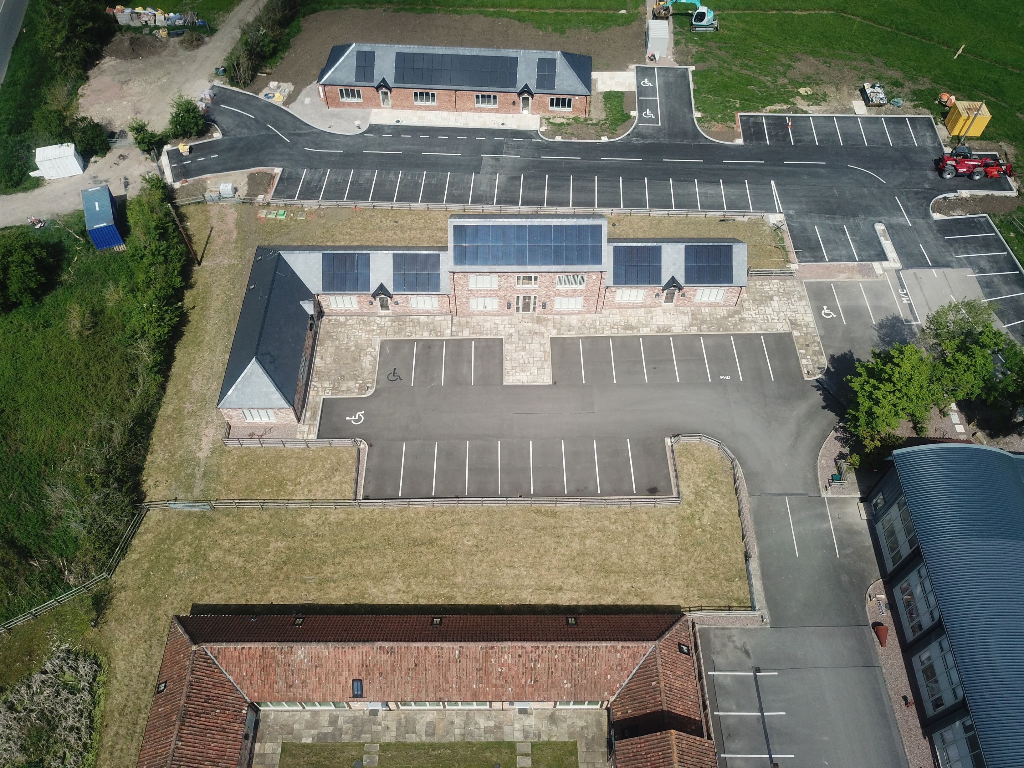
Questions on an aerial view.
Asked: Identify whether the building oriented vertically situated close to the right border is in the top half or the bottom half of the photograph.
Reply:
bottom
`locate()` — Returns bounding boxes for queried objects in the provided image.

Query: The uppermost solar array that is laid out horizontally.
[394,52,518,87]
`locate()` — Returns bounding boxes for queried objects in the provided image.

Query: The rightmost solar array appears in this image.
[685,245,733,283]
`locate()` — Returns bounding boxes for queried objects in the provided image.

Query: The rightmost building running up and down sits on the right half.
[875,443,1024,768]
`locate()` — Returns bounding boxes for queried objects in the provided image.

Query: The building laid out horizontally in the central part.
[216,213,746,423]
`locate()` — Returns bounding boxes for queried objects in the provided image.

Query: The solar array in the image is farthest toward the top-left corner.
[354,50,375,82]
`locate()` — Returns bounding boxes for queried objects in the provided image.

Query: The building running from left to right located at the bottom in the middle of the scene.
[133,613,719,768]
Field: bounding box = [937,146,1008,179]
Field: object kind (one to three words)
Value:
work vehicle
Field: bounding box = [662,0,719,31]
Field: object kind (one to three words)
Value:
work vehicle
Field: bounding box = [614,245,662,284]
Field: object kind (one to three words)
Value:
solar array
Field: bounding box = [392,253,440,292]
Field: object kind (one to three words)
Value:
solar array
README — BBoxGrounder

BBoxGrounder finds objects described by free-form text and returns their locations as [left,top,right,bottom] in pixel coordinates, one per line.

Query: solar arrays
[453,224,602,265]
[536,56,556,88]
[614,245,662,284]
[321,253,370,292]
[394,52,518,87]
[685,245,733,283]
[392,253,440,292]
[354,50,375,82]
